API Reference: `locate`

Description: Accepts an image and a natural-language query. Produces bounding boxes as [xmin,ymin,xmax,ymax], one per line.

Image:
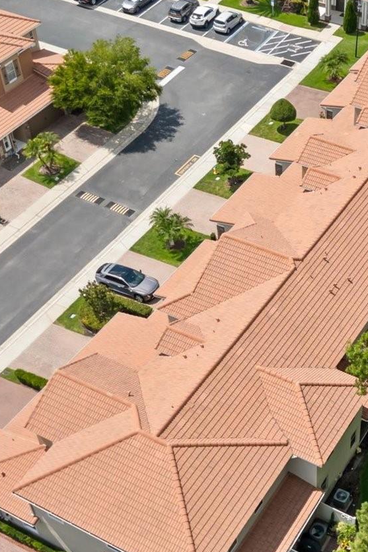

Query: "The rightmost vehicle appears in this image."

[210,12,240,33]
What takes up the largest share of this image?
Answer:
buildings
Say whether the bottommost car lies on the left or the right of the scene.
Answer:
left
